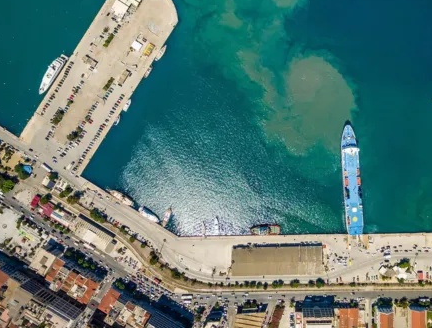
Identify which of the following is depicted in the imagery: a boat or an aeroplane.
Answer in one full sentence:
There is a boat in the scene.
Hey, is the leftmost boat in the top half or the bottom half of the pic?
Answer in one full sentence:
It is in the top half that the leftmost boat appears.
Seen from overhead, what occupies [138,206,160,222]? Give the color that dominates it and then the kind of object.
white boat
